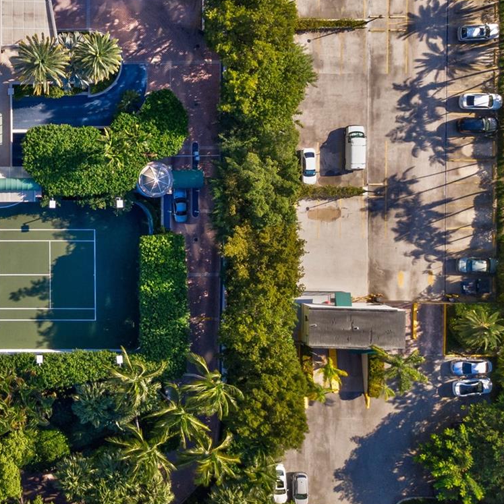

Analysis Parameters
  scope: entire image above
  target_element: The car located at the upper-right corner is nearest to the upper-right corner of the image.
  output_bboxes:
[458,22,497,41]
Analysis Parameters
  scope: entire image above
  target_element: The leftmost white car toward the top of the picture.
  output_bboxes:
[301,149,318,183]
